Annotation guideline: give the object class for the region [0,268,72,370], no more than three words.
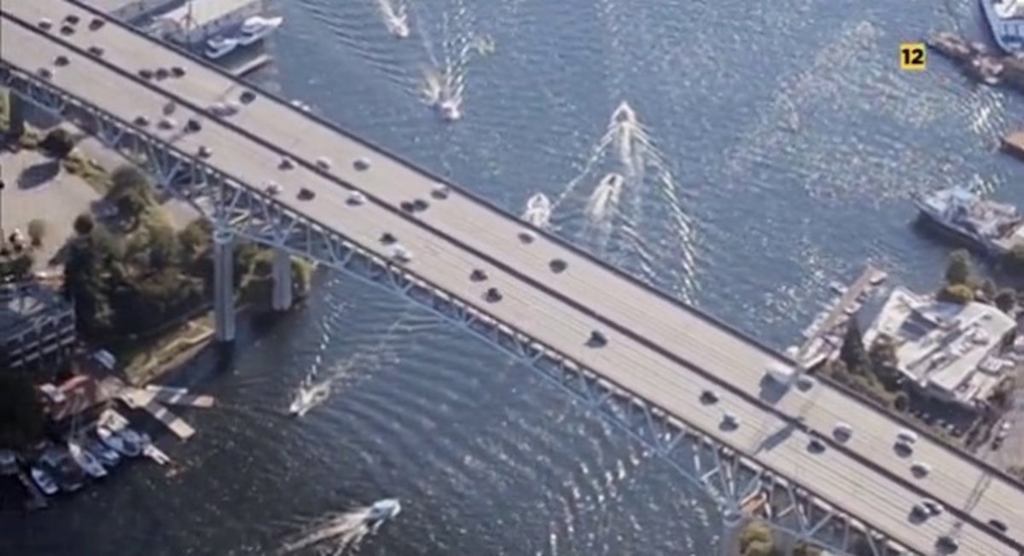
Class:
building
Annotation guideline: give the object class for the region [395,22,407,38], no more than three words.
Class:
boat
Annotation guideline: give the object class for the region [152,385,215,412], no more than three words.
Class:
pier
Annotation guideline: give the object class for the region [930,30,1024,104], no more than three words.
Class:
ship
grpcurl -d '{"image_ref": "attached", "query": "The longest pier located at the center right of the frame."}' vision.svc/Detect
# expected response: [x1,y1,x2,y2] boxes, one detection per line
[801,265,876,367]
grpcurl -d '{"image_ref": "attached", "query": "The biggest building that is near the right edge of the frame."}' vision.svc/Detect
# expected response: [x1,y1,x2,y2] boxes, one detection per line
[863,287,1013,407]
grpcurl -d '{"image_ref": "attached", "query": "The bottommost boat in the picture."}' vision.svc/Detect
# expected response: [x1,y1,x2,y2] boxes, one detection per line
[365,499,399,521]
